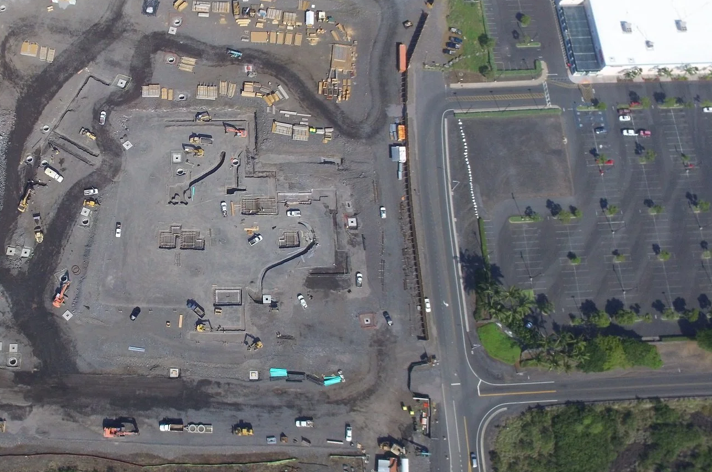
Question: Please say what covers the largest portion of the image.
paved ground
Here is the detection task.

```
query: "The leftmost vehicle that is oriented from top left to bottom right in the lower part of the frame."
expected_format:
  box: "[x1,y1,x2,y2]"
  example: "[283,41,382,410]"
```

[186,300,205,318]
